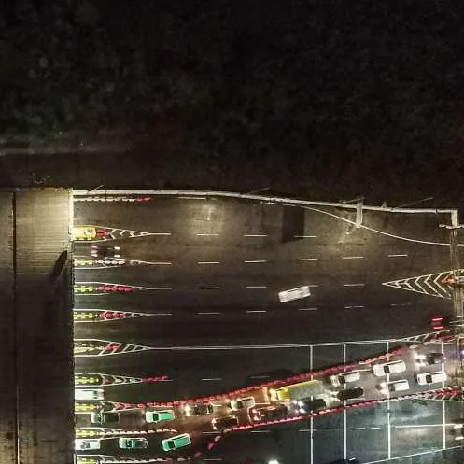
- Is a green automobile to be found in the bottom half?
Yes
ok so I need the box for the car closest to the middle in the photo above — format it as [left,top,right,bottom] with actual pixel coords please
[277,286,310,301]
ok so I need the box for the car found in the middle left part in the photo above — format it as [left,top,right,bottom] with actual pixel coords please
[90,244,120,258]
